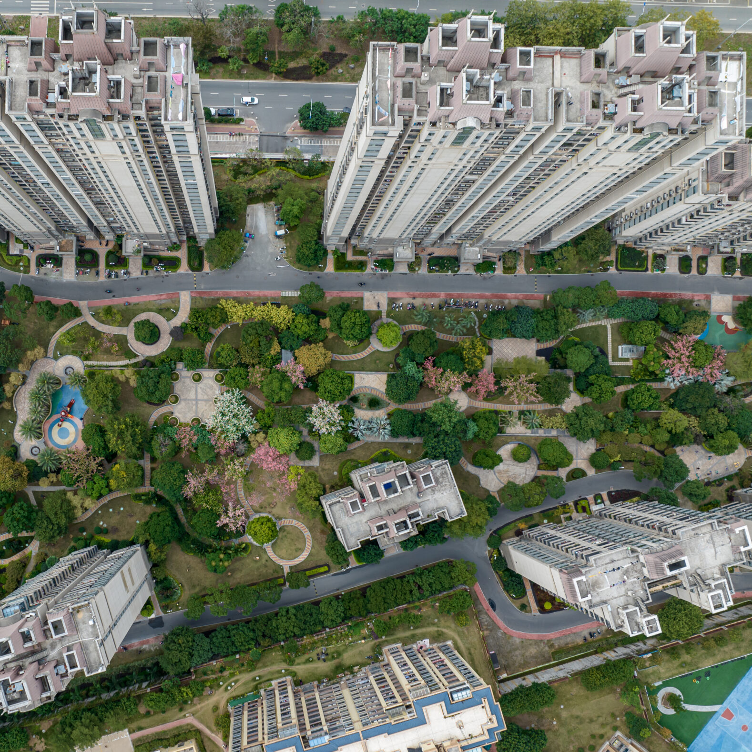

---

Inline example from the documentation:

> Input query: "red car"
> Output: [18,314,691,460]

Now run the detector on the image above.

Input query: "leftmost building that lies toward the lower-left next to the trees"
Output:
[0,552,156,725]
